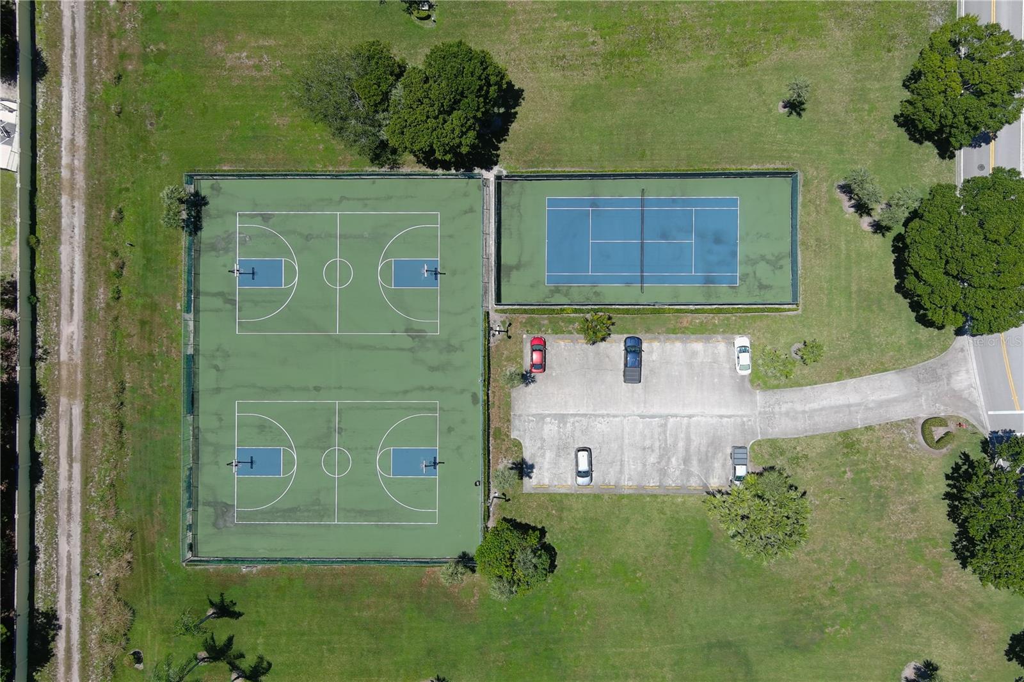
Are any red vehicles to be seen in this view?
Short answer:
Yes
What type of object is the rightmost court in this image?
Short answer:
tennis court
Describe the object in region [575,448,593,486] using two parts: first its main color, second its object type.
white car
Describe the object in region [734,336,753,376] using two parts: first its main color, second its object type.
white car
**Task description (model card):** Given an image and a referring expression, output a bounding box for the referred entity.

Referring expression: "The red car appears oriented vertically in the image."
[529,336,547,374]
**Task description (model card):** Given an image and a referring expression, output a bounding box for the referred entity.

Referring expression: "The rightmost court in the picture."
[496,179,792,302]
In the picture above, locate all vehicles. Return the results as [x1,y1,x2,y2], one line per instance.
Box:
[731,447,749,490]
[624,337,644,384]
[734,336,753,376]
[529,336,547,374]
[575,448,593,486]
